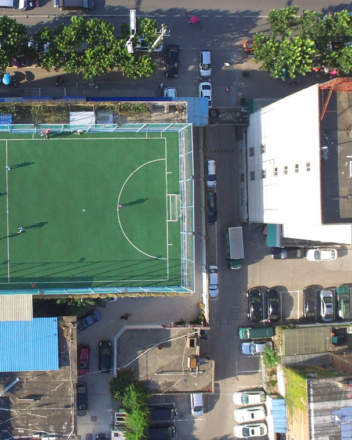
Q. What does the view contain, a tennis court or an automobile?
automobile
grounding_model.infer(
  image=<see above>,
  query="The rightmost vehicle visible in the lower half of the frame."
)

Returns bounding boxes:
[335,285,352,320]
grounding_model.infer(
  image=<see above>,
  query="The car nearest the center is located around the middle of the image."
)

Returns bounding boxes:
[204,191,219,225]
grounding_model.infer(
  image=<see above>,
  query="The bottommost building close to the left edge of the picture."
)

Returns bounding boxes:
[0,312,77,440]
